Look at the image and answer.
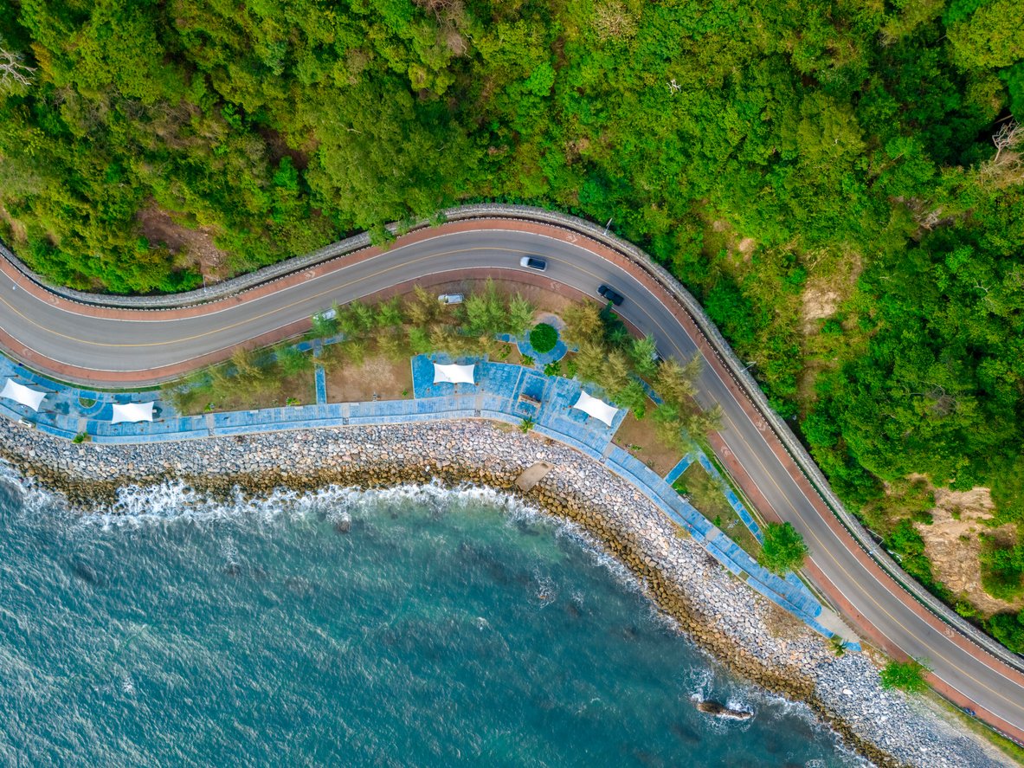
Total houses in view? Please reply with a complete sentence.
The count of houses is 0.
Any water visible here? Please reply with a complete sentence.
Yes, the picture does contain water.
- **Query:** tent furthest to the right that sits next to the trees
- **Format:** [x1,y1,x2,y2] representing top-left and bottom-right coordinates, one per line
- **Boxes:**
[567,385,623,431]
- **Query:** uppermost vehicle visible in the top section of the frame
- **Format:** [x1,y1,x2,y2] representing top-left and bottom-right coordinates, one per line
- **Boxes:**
[520,255,548,271]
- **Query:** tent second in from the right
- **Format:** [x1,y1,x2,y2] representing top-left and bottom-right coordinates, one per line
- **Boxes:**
[430,360,480,388]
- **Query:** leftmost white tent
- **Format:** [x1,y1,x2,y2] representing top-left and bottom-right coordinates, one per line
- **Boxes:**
[0,373,62,416]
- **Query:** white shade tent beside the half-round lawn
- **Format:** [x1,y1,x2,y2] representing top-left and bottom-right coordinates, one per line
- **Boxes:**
[109,397,167,427]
